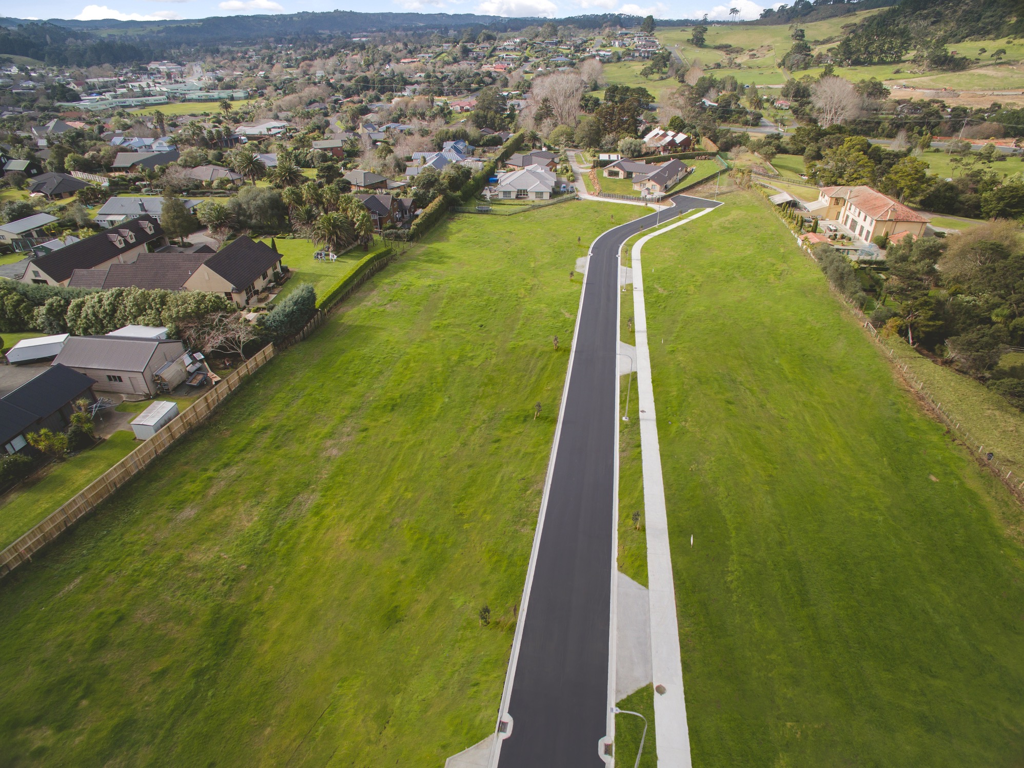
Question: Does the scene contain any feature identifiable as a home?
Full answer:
Yes, the frame does contain a home.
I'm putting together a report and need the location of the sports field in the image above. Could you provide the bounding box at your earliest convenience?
[130,100,256,115]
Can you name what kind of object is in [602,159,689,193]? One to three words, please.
house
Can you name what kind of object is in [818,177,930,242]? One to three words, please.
house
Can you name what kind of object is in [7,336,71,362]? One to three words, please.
camper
